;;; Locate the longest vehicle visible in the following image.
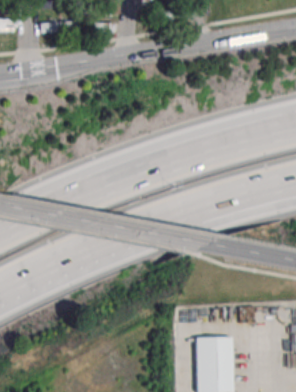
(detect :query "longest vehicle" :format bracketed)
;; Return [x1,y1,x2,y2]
[212,32,268,48]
